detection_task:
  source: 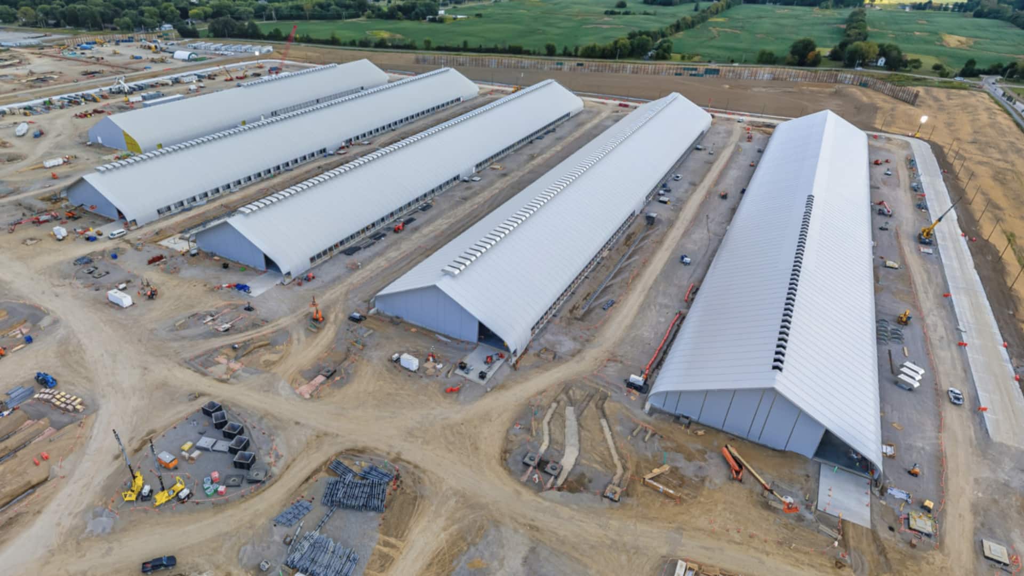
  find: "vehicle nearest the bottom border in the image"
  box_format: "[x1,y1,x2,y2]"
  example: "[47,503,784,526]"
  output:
[137,554,177,572]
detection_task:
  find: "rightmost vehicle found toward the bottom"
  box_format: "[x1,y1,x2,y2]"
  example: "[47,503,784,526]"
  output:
[948,385,966,403]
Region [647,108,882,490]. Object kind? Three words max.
building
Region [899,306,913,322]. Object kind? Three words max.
work vehicle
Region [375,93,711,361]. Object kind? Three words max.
building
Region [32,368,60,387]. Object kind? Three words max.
work vehicle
